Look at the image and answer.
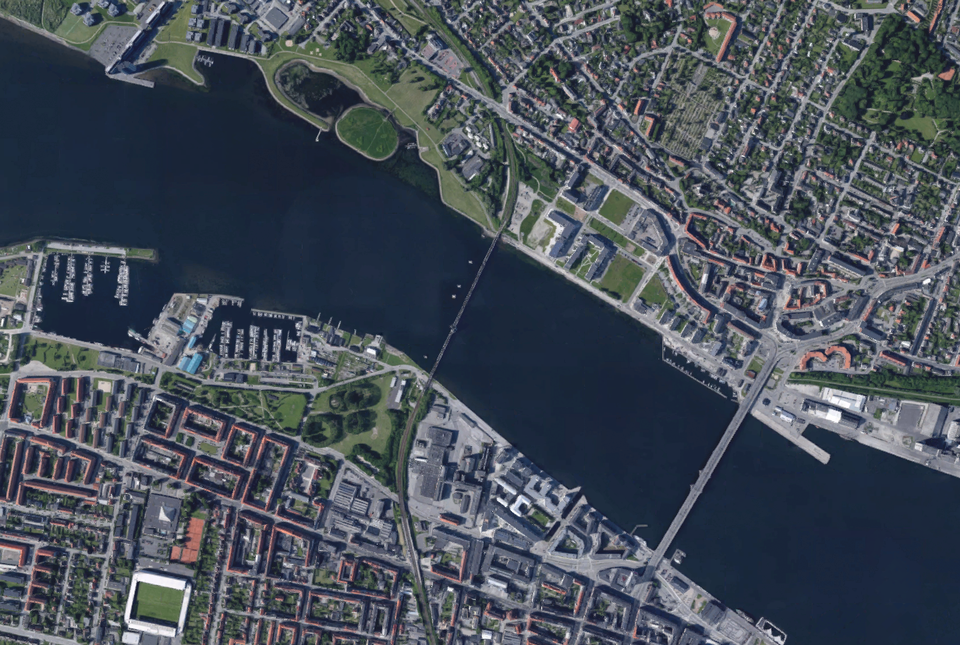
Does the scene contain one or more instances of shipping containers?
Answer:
No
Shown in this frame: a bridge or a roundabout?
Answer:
bridge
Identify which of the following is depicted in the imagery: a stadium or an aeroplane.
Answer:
stadium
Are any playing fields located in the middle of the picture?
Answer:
No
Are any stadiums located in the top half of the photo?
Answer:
No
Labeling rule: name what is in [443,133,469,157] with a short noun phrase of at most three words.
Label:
house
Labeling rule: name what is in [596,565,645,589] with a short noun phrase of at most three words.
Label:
building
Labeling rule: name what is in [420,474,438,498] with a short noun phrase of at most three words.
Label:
building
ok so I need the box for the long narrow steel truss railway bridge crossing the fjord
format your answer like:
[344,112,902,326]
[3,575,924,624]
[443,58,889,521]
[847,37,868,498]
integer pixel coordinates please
[427,232,501,391]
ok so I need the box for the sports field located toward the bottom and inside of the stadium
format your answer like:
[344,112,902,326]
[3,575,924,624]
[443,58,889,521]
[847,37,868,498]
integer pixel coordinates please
[133,583,183,622]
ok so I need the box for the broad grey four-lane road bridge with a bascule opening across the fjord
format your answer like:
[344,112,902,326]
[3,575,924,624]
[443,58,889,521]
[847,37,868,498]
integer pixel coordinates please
[636,339,792,592]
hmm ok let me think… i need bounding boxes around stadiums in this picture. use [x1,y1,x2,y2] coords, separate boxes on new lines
[123,571,192,638]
